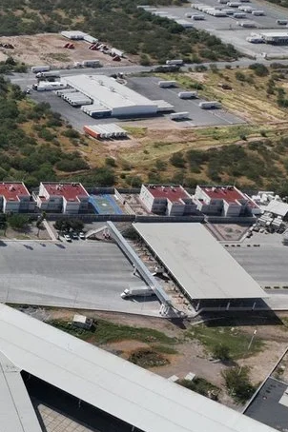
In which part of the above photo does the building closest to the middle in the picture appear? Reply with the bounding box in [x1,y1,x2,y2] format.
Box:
[136,184,200,217]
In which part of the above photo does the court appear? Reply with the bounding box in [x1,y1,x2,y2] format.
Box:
[90,191,124,215]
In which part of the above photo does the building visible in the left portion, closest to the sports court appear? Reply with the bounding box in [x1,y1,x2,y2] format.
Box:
[37,181,97,215]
